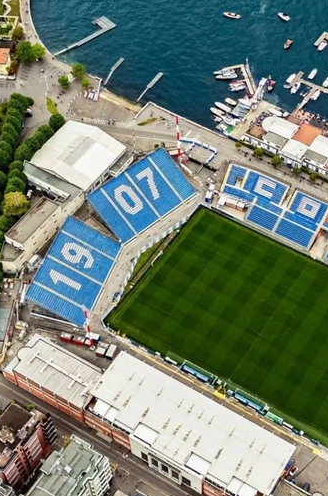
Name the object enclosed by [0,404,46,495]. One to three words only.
building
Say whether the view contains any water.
Yes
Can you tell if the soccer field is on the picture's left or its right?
right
